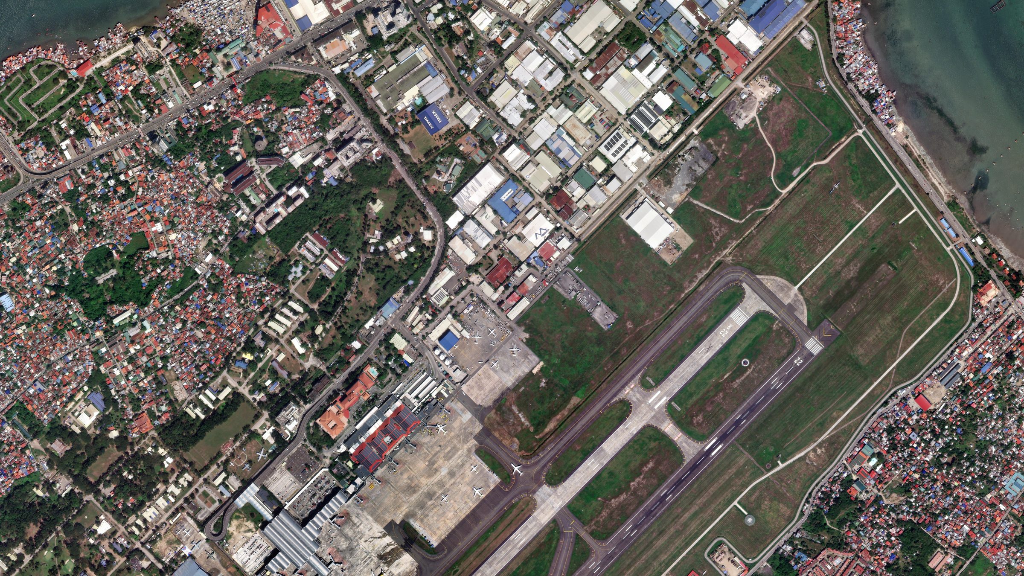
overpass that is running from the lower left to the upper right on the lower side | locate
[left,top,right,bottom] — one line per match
[205,445,295,541]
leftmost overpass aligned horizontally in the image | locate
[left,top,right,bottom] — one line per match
[0,130,116,176]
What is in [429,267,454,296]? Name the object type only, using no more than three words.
shed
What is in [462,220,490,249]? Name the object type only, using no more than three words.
building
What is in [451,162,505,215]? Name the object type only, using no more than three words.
building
